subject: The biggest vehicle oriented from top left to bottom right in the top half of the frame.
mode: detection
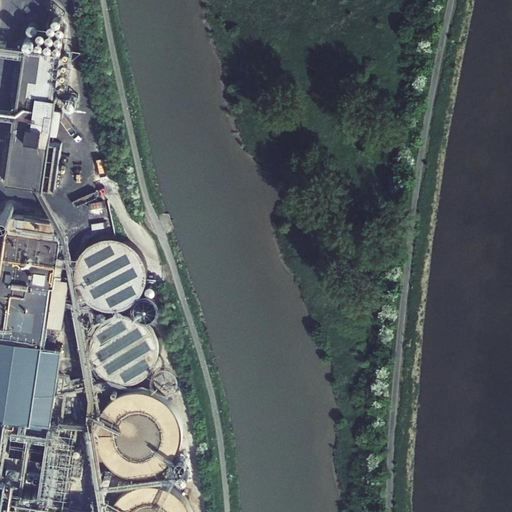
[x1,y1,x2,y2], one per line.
[60,116,81,142]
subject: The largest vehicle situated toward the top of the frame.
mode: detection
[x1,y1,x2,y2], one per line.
[70,186,107,208]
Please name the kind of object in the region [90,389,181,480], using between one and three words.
storage tank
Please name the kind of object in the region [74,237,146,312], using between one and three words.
storage tank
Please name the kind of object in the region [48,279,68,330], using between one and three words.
shed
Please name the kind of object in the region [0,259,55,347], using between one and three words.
building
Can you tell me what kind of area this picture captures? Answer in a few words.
industrial area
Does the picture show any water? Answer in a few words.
Yes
